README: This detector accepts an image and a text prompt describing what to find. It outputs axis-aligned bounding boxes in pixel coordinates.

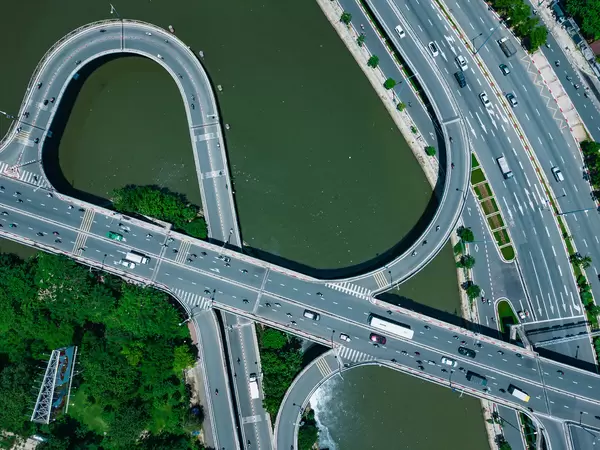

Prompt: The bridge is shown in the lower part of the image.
[0,173,600,434]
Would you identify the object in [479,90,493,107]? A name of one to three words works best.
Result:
car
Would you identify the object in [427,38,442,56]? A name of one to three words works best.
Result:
car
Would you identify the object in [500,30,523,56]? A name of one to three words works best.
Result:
truck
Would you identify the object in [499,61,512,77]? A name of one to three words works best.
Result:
vehicle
